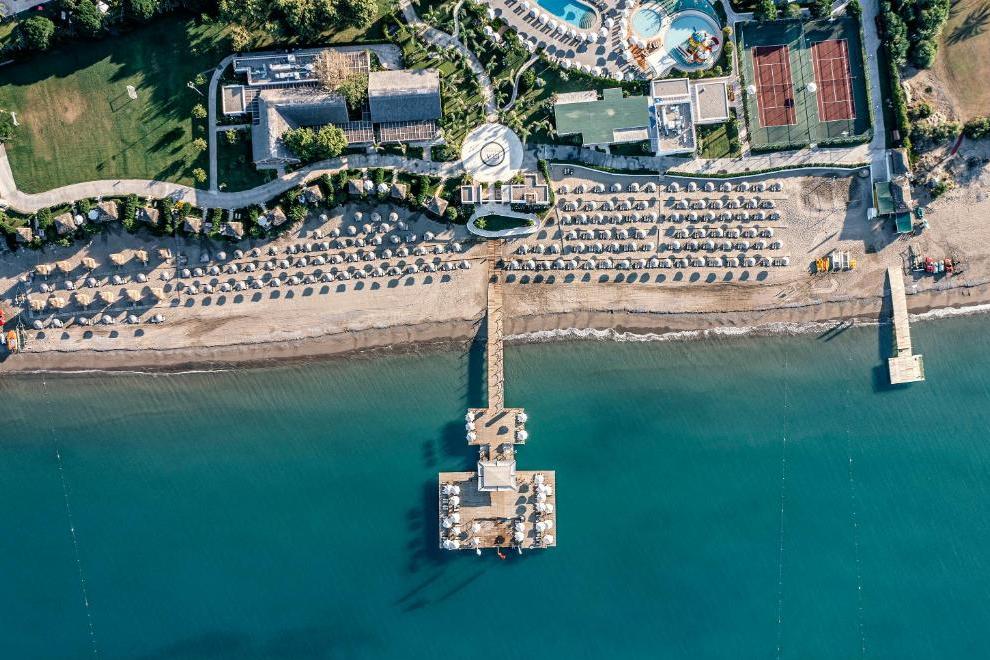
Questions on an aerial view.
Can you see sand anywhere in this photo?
Yes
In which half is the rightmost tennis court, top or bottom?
top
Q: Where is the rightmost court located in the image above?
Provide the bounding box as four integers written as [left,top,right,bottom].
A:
[803,16,867,141]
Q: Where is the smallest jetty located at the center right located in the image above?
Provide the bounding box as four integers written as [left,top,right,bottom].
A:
[887,265,926,384]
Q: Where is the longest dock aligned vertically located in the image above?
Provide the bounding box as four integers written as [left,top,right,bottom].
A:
[439,244,556,549]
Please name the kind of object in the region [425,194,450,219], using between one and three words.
shed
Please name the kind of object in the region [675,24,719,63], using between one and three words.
playground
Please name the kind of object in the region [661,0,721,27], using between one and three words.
swimming pool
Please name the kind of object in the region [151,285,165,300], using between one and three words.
umbrella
